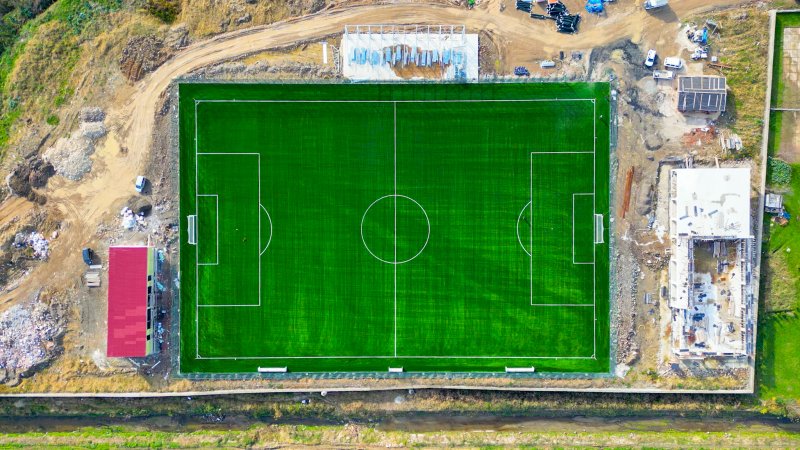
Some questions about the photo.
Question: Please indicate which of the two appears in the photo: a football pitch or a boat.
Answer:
football pitch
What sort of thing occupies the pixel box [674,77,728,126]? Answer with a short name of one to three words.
shed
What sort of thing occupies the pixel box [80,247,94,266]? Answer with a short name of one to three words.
vehicle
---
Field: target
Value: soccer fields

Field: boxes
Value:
[179,82,610,374]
